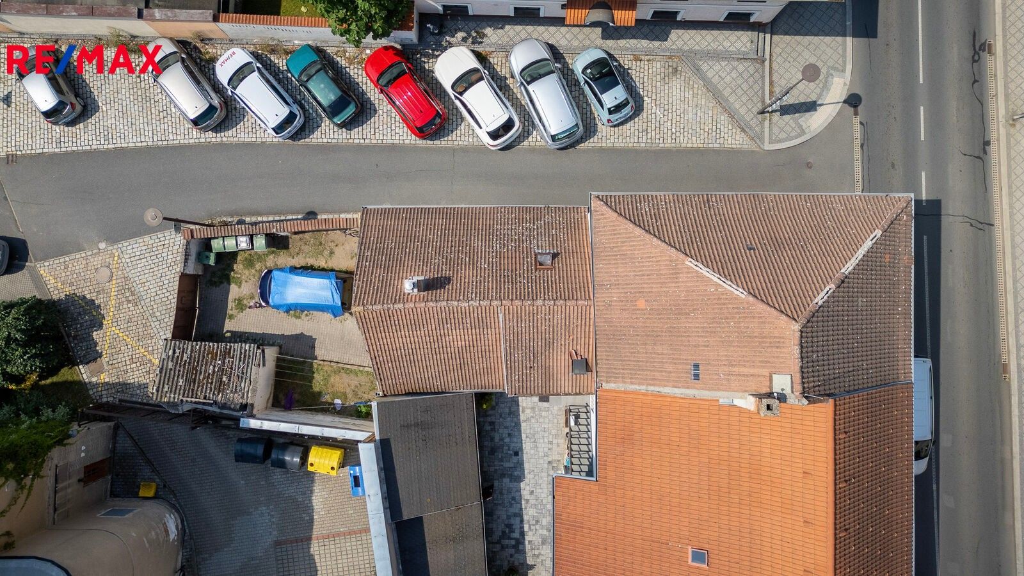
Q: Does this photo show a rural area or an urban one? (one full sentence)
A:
From above, the setting appears urban.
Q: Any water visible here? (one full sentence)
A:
No, no water is visible.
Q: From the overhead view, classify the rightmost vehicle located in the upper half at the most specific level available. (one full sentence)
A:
It looks like the rightmost vehicle located in the upper half is a car.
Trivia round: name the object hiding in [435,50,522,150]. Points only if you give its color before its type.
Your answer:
white car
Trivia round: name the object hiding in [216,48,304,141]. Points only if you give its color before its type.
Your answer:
white car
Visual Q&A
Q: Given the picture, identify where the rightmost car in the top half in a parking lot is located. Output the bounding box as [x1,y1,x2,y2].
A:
[571,49,636,127]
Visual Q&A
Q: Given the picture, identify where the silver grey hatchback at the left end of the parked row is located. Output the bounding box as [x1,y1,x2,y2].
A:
[10,44,86,129]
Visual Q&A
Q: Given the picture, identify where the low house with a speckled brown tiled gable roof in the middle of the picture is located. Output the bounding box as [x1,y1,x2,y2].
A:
[351,203,596,398]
